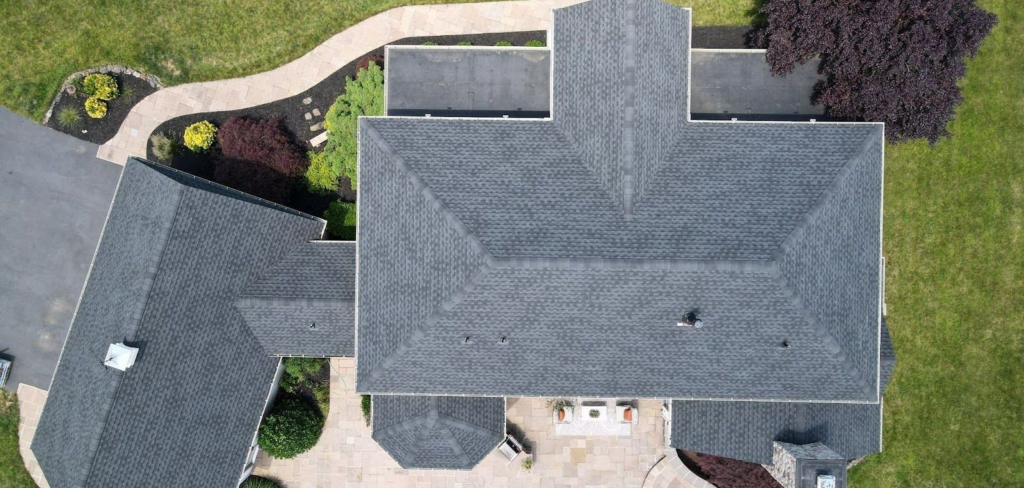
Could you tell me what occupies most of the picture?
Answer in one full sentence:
Most of the picture is covered by buildings.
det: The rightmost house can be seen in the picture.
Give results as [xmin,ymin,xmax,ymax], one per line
[354,0,897,488]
